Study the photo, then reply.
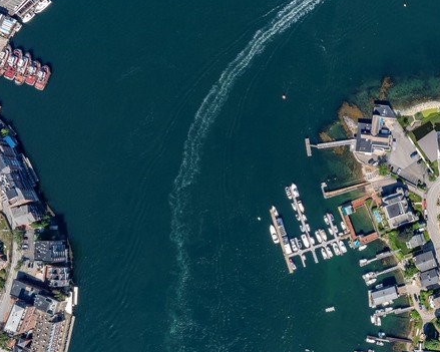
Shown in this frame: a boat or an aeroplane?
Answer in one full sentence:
The one in the frame is a boat.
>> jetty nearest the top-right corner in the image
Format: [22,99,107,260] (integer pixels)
[305,138,356,157]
